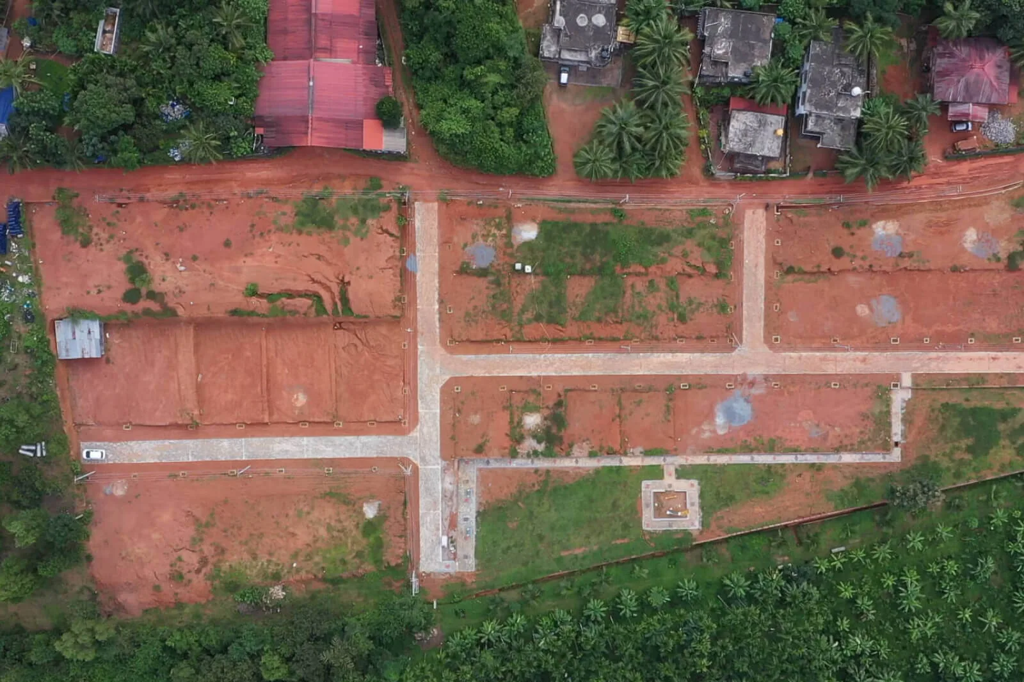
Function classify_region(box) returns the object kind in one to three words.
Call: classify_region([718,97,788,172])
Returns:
house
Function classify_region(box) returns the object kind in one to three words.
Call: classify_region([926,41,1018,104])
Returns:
house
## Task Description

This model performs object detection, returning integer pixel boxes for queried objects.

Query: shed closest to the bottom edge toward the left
[55,318,105,359]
